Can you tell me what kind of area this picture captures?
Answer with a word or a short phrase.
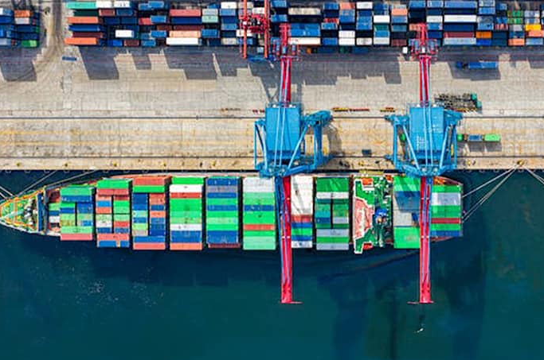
port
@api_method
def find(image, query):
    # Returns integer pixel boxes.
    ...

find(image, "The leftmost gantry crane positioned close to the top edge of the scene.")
[239,0,281,62]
